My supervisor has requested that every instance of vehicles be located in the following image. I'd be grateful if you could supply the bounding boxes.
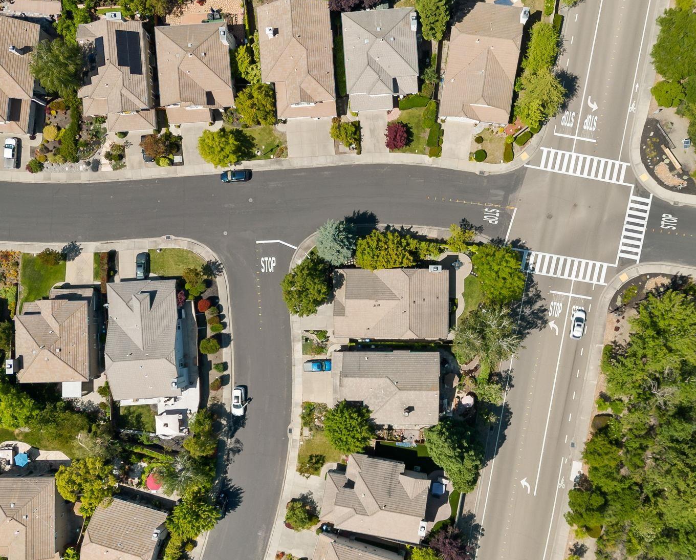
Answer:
[302,358,332,374]
[231,384,252,416]
[134,250,151,281]
[140,134,157,166]
[3,136,21,173]
[569,308,588,341]
[221,169,254,184]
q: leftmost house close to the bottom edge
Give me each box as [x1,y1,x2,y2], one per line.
[0,472,69,560]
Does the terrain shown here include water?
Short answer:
No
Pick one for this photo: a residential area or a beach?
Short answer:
residential area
